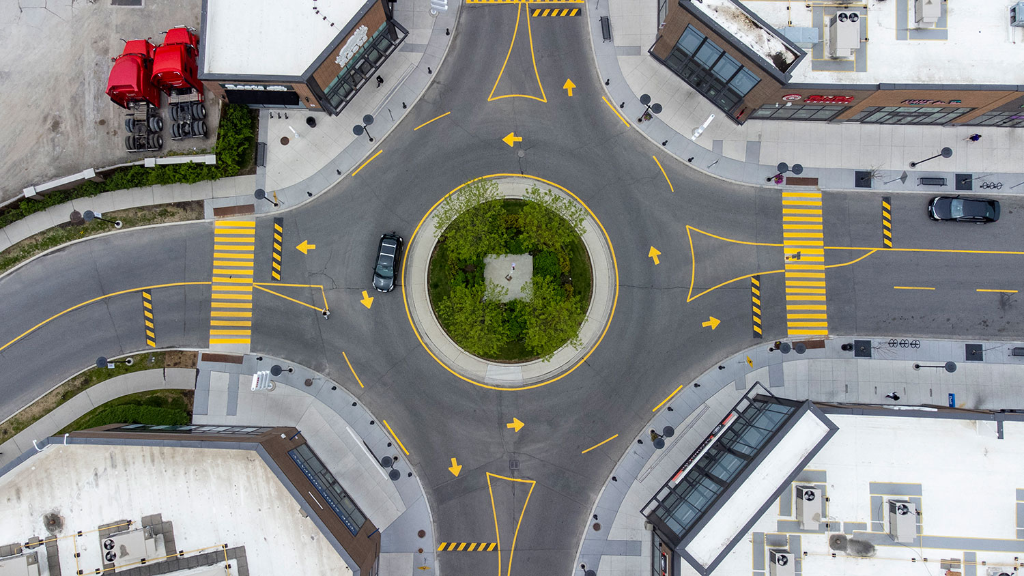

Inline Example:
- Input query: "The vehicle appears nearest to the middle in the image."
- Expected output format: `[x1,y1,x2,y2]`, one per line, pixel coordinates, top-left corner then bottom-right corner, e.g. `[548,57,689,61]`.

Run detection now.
[369,230,405,294]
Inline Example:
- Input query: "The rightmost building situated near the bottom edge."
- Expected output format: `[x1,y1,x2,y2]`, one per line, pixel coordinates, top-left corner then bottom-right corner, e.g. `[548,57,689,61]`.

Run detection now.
[637,376,1024,576]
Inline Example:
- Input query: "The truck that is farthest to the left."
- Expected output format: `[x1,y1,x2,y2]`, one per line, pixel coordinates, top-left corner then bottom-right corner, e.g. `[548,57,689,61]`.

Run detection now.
[107,42,162,151]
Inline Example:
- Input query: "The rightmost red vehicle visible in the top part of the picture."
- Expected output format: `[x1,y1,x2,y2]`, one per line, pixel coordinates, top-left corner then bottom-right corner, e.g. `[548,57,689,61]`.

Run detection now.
[154,30,205,138]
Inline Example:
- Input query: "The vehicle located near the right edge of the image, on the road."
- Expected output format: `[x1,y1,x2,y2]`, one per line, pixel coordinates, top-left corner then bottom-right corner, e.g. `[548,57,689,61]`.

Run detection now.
[930,193,1002,224]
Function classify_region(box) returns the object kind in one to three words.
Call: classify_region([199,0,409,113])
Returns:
building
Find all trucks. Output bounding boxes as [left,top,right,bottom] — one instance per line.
[154,30,205,138]
[107,42,162,151]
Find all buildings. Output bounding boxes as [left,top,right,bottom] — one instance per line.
[199,0,409,113]
[637,376,1024,576]
[0,424,381,576]
[648,0,1024,127]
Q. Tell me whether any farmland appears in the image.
No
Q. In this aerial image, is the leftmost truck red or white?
red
